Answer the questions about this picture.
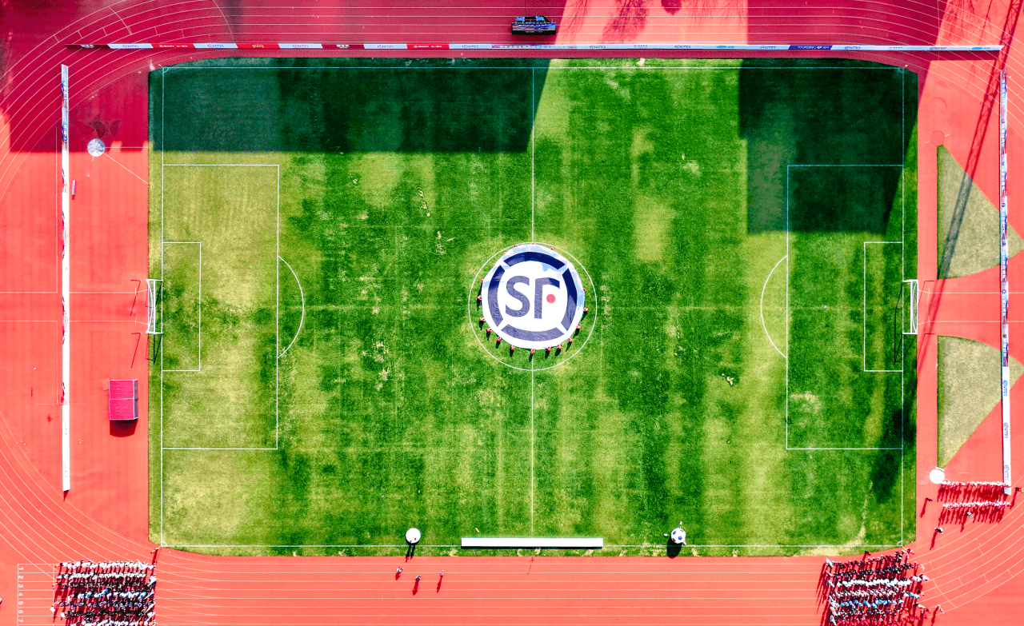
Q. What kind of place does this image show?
sports ground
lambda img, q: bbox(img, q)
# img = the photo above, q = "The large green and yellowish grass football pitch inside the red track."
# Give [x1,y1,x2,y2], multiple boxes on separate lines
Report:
[148,57,919,557]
